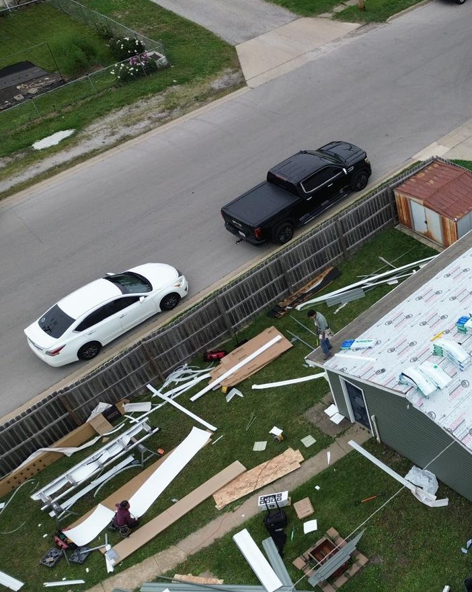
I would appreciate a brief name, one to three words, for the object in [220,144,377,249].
truck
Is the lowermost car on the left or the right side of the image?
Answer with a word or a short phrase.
left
